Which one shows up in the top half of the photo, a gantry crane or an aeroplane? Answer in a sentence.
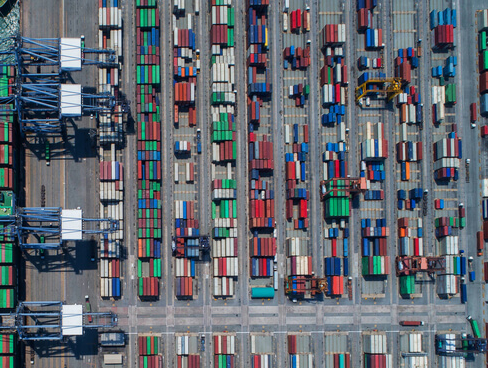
There is a gantry crane in the top half of the photo.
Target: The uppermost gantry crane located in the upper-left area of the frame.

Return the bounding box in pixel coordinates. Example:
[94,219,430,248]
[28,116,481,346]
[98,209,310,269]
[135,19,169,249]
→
[0,34,115,101]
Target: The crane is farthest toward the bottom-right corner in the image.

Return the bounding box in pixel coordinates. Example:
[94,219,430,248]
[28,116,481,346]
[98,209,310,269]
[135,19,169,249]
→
[433,333,488,355]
